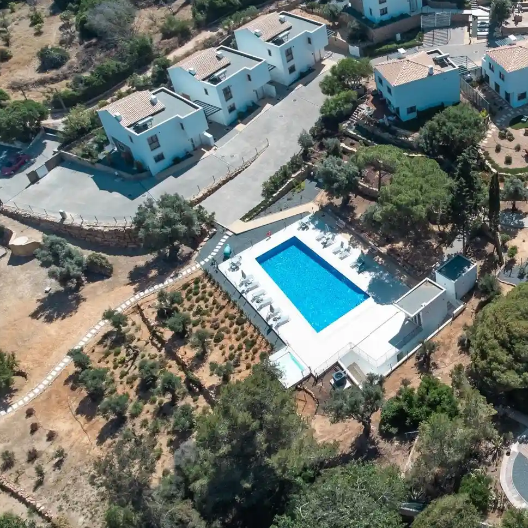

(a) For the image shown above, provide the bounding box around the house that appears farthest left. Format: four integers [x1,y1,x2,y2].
[96,84,214,175]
